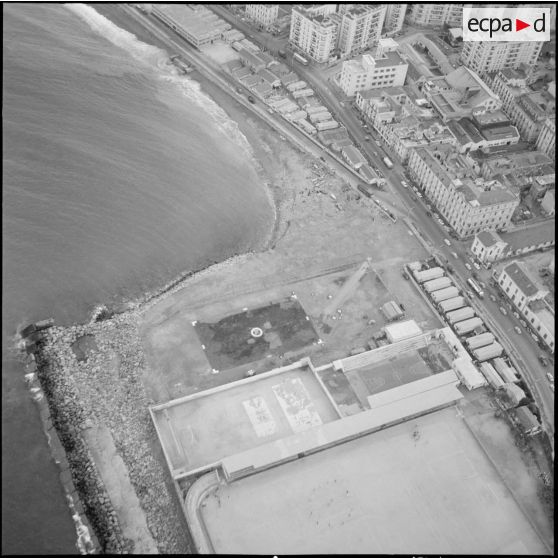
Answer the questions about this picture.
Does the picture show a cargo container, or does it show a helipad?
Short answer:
helipad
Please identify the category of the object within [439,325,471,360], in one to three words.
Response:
building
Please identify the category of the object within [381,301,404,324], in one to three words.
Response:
shed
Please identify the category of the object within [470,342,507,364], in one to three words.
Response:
shed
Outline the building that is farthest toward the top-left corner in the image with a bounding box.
[140,0,232,48]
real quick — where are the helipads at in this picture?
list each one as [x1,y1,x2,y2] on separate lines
[195,298,319,371]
